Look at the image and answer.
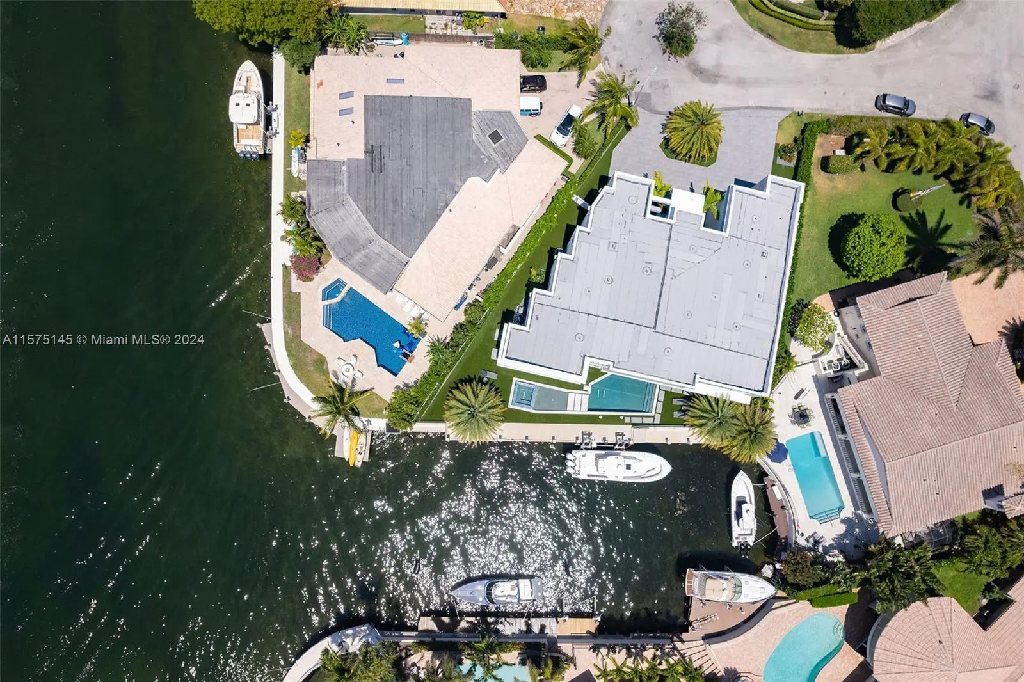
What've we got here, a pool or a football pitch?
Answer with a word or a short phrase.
pool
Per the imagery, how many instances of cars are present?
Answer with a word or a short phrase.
5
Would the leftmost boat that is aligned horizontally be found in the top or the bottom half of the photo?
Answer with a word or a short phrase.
bottom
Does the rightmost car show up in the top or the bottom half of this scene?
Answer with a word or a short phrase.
top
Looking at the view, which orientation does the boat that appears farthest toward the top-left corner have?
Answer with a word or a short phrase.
vertically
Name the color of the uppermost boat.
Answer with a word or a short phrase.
white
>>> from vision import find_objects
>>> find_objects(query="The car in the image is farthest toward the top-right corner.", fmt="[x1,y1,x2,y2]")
[960,108,1002,135]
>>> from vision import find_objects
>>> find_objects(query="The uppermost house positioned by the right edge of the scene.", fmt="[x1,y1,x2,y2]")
[815,271,1024,534]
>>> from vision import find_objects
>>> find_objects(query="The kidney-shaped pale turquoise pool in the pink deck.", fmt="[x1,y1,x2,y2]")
[760,613,845,682]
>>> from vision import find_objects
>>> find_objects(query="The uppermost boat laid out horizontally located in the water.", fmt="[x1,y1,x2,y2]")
[565,450,673,483]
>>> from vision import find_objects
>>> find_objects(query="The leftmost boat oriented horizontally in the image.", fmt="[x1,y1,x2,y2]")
[449,579,543,607]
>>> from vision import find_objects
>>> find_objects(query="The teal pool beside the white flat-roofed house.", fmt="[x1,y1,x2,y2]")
[509,373,660,416]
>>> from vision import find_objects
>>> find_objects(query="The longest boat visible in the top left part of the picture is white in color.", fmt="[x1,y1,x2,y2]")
[227,58,265,160]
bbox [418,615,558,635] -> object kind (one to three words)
pier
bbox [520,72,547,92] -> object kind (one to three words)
car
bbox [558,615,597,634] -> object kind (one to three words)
pier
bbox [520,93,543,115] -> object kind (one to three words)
car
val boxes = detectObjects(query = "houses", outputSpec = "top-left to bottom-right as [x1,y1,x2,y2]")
[815,271,1024,534]
[497,172,804,405]
[307,42,569,322]
[865,572,1024,682]
[336,0,507,20]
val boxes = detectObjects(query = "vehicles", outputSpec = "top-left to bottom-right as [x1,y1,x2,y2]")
[520,93,543,115]
[960,108,1002,135]
[520,72,547,92]
[876,91,921,115]
[551,100,584,148]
